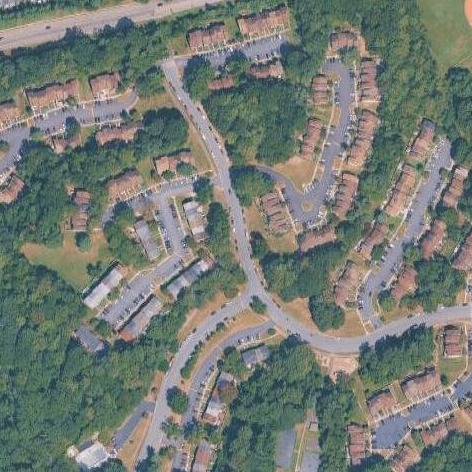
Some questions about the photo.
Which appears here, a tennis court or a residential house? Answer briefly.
residential house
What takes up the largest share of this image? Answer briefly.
trees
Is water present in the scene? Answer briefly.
No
